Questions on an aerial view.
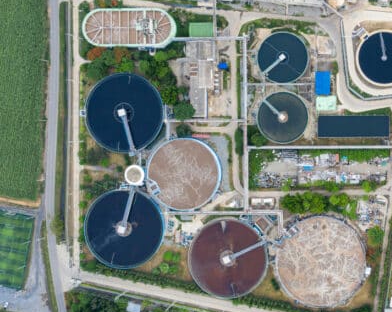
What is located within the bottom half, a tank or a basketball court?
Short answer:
tank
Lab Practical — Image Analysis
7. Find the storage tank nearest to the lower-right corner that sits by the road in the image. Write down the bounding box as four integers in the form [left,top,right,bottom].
[276,215,367,307]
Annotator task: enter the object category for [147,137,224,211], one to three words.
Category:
storage tank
